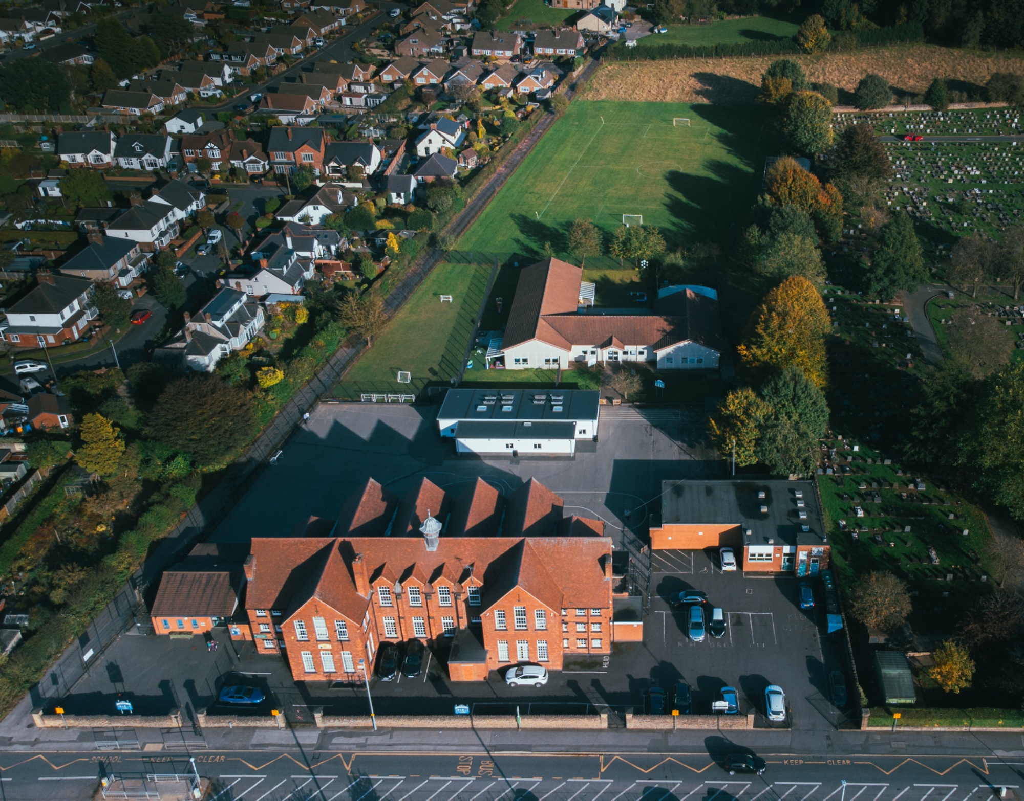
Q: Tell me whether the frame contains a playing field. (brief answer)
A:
Yes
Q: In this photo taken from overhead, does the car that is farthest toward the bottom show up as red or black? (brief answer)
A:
black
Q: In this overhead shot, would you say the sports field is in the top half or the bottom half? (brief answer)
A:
top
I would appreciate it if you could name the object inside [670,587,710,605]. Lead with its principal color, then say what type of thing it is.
black car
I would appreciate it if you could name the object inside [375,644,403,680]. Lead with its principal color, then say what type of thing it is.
black car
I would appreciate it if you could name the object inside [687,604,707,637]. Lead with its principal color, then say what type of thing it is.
blue car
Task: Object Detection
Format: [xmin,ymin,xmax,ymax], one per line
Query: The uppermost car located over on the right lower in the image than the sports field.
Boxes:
[718,545,737,569]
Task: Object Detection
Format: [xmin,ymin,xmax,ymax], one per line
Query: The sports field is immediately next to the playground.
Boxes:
[450,99,796,265]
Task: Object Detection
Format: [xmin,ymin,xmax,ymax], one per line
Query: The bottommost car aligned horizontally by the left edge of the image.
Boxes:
[13,357,47,372]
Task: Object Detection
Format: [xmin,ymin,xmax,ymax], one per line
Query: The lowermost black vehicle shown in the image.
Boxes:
[724,750,767,774]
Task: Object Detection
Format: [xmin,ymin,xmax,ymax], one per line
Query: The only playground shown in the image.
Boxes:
[208,401,737,593]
